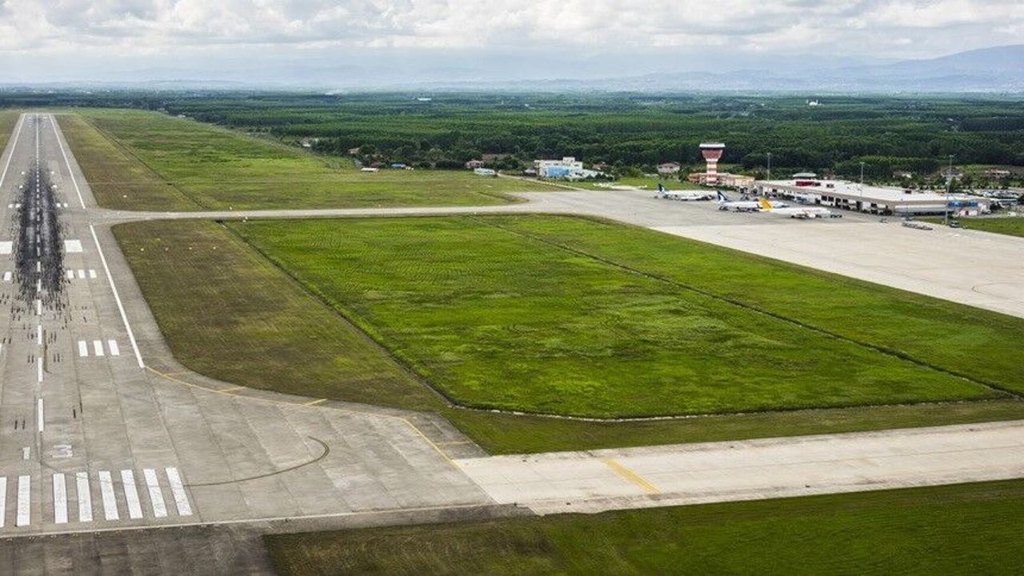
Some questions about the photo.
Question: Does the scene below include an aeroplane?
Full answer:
Yes, an aeroplane appears in the view.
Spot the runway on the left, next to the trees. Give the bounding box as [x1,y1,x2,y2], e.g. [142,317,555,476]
[0,114,502,540]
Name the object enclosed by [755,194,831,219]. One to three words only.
airplane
